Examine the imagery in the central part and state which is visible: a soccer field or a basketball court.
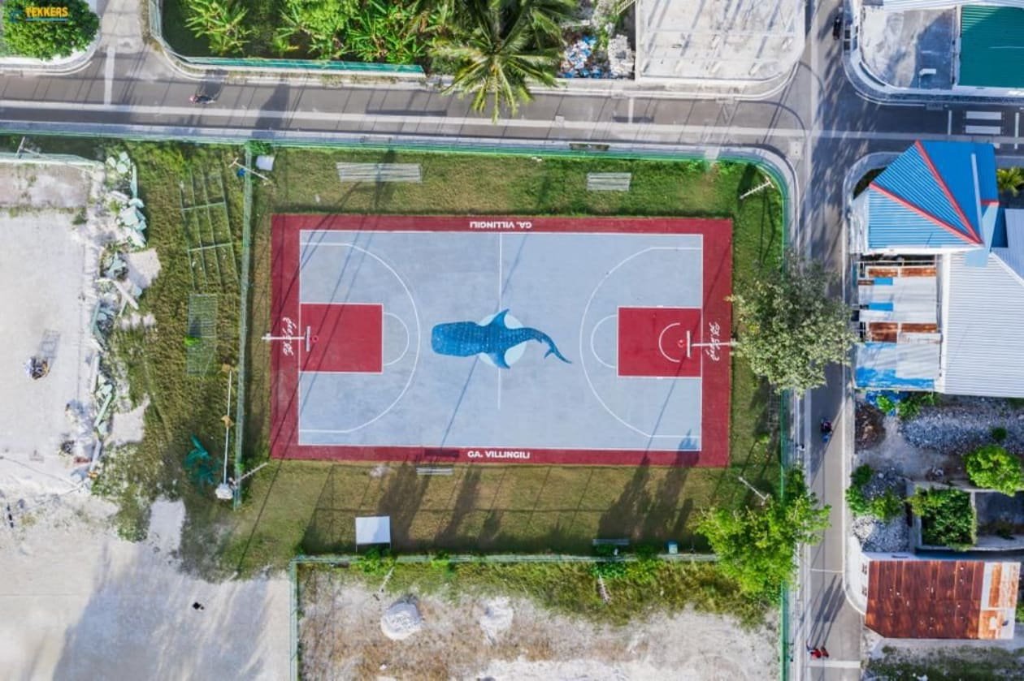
basketball court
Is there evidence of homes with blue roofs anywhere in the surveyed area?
Yes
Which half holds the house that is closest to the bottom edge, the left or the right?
right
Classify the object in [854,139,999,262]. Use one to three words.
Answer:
house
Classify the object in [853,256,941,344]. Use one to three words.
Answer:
shed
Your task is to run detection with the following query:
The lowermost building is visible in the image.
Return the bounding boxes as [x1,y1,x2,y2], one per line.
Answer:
[852,553,1022,640]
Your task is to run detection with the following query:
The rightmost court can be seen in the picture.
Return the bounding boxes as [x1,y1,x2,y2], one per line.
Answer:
[270,215,732,467]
